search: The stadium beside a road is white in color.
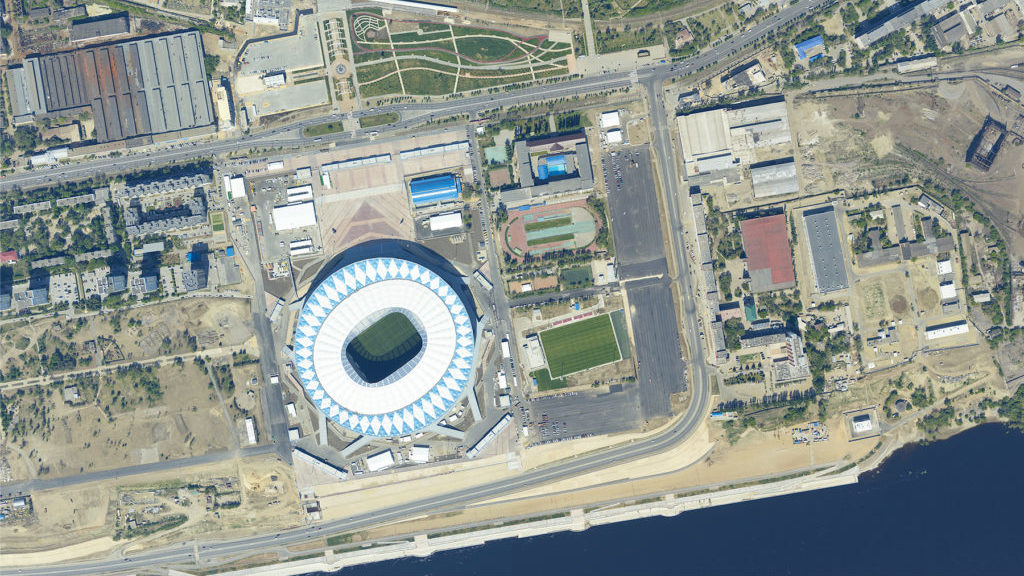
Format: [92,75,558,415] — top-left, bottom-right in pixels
[280,255,491,459]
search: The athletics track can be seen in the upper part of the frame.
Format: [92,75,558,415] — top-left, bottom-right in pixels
[499,199,602,260]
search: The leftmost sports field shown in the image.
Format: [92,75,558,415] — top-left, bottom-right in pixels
[347,311,423,382]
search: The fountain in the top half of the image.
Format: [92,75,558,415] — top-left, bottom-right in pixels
[330,58,352,80]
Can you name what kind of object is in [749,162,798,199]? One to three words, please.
building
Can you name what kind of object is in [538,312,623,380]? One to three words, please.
soccer field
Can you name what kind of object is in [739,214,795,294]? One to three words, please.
building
